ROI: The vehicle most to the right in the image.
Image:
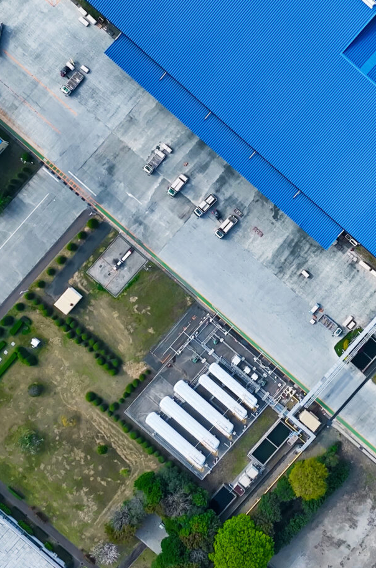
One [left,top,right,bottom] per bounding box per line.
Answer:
[314,309,347,338]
